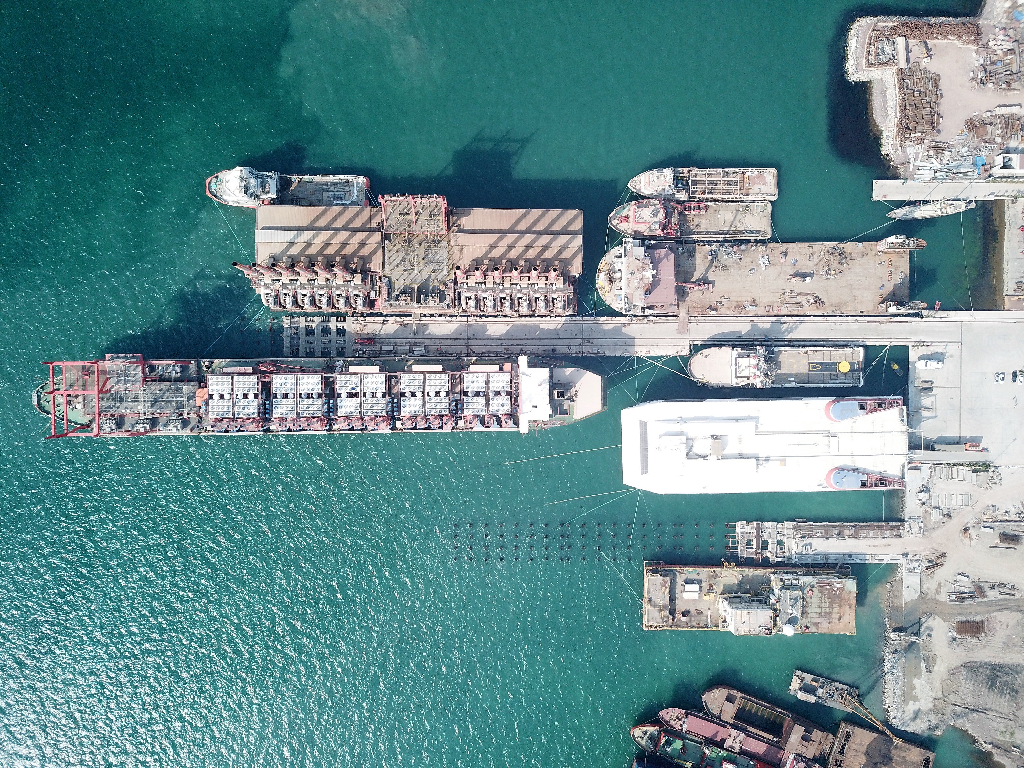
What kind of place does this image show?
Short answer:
port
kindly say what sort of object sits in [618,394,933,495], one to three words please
ship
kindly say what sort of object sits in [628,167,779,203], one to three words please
vessel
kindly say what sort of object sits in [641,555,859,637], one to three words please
ship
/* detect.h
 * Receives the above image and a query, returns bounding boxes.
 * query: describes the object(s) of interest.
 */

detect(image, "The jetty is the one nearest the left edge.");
[270,317,353,357]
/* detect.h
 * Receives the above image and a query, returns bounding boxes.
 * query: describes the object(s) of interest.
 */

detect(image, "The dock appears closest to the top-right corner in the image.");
[871,176,1024,201]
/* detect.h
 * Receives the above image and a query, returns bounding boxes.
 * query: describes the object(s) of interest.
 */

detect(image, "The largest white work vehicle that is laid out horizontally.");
[888,630,923,643]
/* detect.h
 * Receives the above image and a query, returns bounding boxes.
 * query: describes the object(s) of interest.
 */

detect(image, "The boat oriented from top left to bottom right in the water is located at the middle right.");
[891,362,904,377]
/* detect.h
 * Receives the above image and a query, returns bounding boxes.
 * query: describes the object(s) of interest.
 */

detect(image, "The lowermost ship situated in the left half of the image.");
[32,353,608,437]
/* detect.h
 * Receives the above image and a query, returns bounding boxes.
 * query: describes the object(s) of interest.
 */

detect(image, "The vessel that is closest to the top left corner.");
[205,167,372,210]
